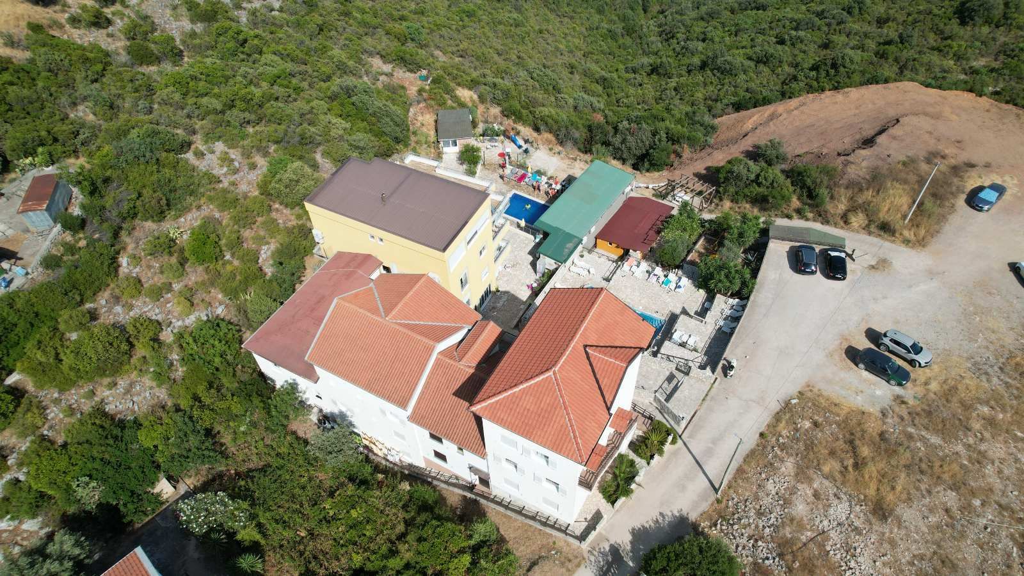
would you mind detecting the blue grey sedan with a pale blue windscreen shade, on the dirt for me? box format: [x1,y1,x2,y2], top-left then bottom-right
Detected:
[970,181,1009,211]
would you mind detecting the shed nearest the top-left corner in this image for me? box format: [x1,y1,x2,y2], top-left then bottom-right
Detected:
[18,174,61,230]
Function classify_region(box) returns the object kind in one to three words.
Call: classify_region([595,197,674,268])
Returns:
shed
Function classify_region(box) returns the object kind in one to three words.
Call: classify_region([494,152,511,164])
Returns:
umbrella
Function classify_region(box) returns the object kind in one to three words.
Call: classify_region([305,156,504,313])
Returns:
building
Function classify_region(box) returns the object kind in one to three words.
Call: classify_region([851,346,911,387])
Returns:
car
